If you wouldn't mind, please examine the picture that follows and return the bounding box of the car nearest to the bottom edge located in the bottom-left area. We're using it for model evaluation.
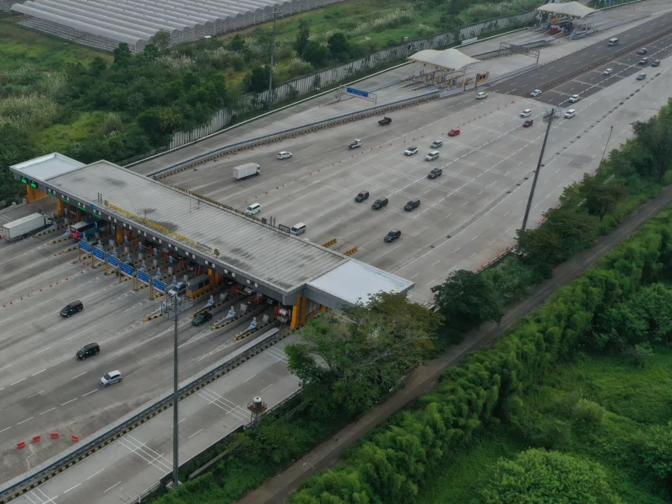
[99,369,123,386]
